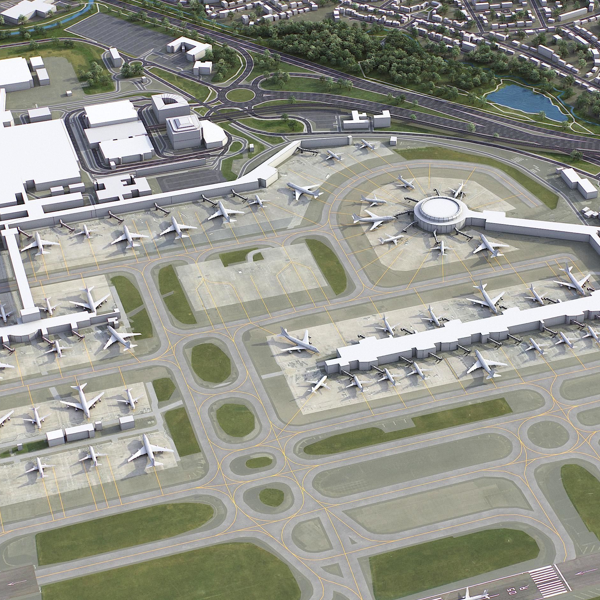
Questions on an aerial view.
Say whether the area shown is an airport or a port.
airport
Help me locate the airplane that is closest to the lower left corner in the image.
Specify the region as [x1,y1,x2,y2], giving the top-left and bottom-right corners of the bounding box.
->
[25,457,56,479]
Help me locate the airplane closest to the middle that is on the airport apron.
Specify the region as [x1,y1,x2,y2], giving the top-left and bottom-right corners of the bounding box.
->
[277,327,319,352]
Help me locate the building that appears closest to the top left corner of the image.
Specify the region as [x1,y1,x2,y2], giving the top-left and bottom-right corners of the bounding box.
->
[0,0,57,24]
